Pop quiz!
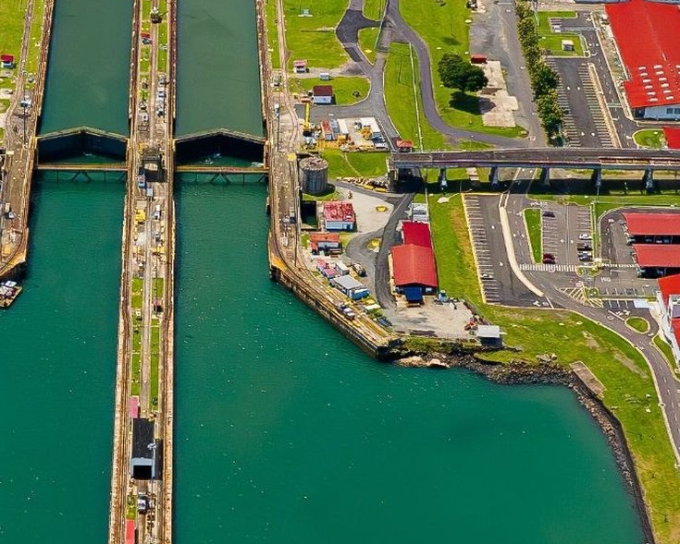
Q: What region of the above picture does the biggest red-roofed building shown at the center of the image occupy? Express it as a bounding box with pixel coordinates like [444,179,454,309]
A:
[382,239,441,300]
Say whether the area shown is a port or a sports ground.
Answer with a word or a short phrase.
port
